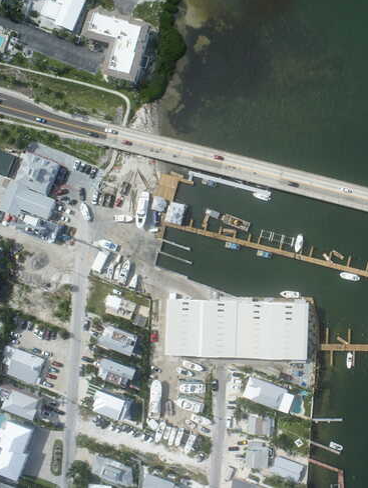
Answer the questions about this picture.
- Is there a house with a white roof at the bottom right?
Yes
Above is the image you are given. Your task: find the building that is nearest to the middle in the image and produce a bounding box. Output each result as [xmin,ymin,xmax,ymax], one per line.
[165,202,186,225]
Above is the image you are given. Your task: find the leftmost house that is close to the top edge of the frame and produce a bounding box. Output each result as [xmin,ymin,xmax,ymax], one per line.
[41,0,88,32]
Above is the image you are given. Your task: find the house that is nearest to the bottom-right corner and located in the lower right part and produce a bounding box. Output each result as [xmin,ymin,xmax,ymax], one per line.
[272,454,306,482]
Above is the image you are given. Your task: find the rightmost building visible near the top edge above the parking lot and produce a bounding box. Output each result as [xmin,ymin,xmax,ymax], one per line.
[81,5,156,85]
